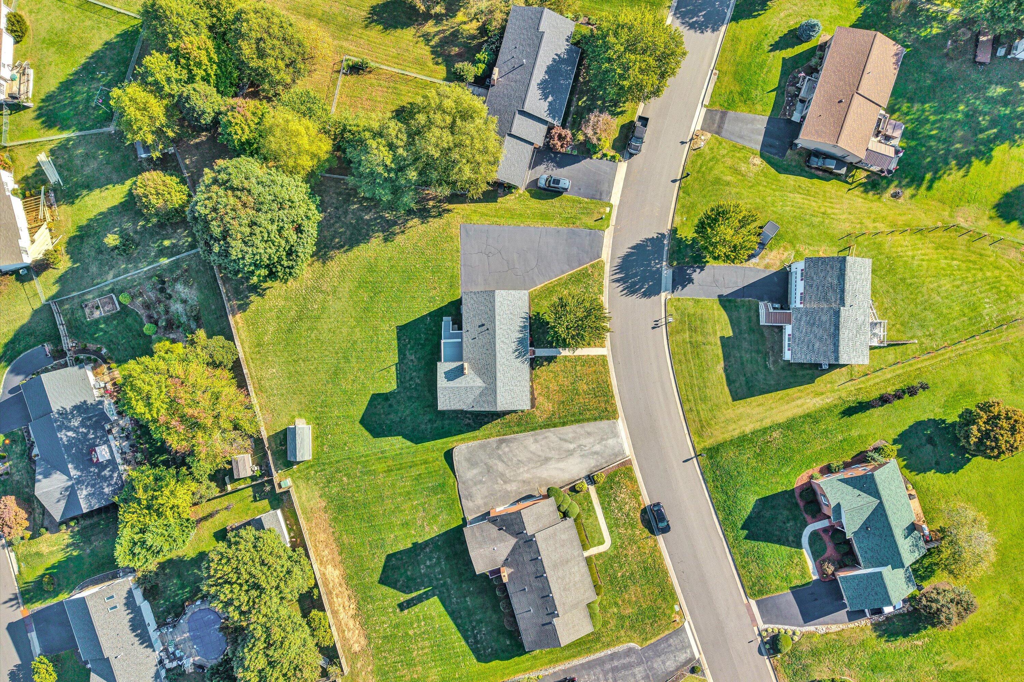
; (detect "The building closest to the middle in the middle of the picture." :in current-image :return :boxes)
[437,290,531,411]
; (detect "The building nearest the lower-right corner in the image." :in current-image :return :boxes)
[808,458,930,611]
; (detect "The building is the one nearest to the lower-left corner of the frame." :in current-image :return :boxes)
[63,577,181,682]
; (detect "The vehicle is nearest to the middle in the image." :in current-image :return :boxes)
[539,174,573,194]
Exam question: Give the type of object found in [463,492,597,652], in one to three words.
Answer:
house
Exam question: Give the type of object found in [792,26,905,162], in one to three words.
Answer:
house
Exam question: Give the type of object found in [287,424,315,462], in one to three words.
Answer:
shed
